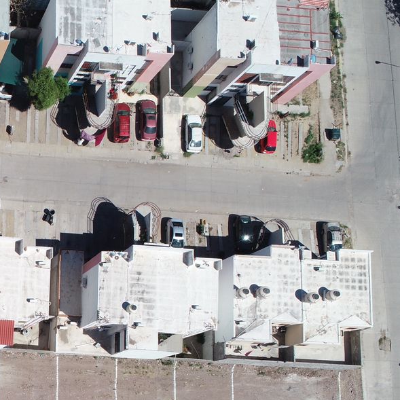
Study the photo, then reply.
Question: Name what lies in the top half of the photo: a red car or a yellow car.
red car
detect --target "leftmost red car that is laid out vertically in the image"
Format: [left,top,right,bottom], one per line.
[111,104,132,143]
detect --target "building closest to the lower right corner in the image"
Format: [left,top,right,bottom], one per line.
[201,213,376,352]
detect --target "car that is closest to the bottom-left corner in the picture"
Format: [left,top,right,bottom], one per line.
[167,213,187,249]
